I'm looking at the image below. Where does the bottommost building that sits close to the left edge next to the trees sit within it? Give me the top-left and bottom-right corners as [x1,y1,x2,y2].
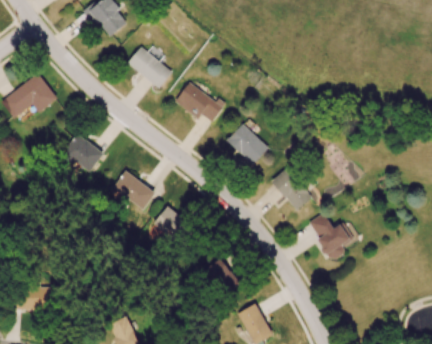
[18,286,50,316]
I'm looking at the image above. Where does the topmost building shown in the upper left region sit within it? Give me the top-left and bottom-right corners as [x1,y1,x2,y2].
[86,0,126,34]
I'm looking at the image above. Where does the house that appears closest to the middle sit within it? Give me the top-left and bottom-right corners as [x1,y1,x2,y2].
[228,124,268,164]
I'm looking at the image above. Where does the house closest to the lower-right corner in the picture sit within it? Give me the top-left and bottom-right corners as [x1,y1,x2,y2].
[308,215,352,258]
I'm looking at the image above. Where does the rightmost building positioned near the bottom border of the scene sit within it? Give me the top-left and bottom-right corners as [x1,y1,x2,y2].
[238,304,273,344]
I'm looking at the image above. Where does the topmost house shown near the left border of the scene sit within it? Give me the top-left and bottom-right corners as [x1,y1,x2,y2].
[2,76,56,117]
